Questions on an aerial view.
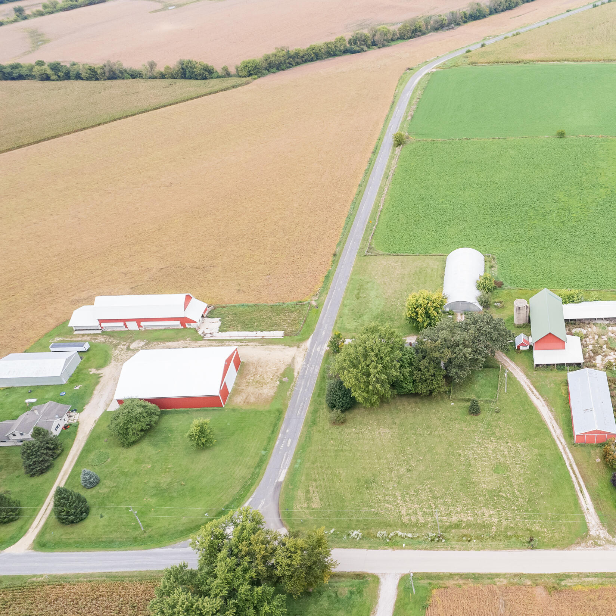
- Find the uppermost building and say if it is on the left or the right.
right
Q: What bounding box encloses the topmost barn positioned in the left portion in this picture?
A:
[67,293,206,332]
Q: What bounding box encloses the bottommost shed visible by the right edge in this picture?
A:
[567,367,616,444]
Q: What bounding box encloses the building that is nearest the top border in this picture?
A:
[444,247,484,310]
